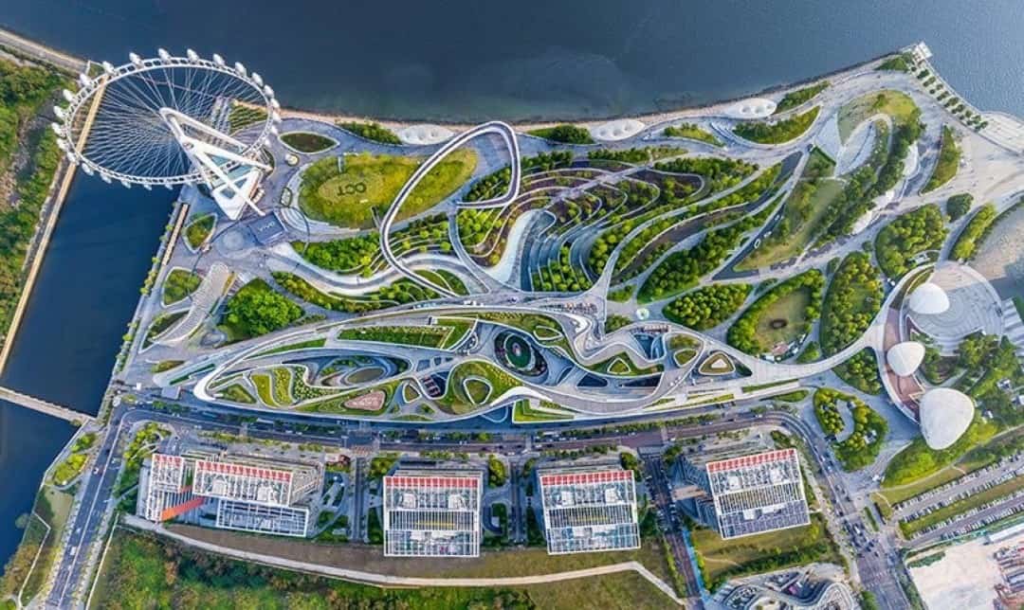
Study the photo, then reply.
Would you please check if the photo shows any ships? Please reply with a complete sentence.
No, I can see no ship in this picture.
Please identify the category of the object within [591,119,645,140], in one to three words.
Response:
building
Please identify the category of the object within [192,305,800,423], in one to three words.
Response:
building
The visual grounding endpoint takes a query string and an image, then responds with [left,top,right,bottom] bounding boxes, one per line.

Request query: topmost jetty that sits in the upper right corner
[900,40,990,134]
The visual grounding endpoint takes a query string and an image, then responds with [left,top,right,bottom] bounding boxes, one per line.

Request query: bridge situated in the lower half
[0,386,95,427]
